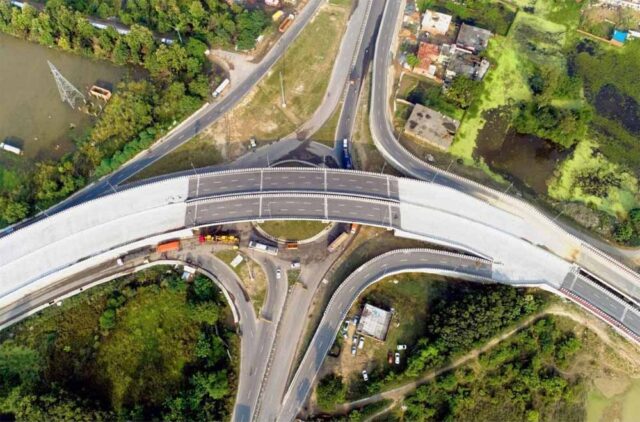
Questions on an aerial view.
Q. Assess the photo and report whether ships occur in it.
No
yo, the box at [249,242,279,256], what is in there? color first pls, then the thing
white vehicle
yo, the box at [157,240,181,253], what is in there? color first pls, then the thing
orange vehicle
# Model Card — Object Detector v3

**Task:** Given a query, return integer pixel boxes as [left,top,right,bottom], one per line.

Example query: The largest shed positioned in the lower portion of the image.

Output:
[357,303,392,342]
